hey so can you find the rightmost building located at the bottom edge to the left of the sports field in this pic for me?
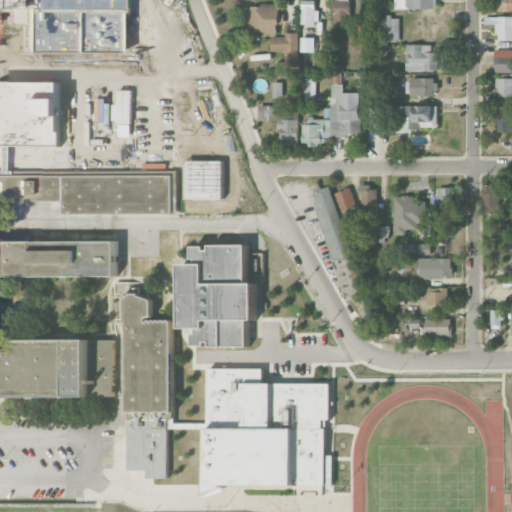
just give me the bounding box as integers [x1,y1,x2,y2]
[201,368,332,486]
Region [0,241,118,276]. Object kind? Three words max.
building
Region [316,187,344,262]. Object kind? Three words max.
shed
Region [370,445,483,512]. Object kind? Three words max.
sports field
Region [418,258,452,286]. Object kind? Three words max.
house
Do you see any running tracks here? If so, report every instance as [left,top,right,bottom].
[353,386,504,512]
